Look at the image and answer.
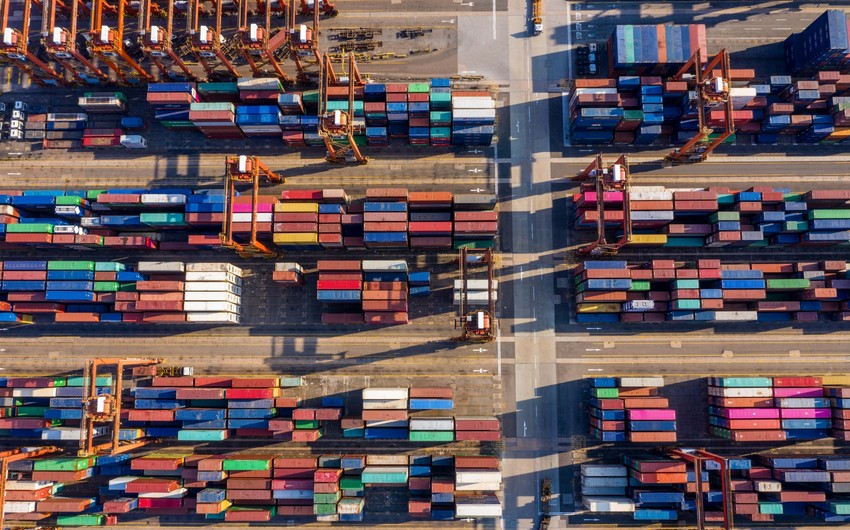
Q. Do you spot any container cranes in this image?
Yes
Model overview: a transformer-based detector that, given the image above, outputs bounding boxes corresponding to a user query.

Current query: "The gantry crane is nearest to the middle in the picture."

[453,247,496,346]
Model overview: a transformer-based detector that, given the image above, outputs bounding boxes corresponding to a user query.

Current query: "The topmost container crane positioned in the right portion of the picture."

[662,50,731,157]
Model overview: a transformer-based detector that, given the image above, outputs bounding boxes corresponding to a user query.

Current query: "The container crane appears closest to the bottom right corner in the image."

[659,446,733,530]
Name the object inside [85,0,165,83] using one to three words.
container crane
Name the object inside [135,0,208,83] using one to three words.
container crane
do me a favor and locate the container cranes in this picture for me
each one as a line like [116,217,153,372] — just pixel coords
[39,0,120,83]
[221,154,286,255]
[0,444,68,530]
[234,0,296,83]
[662,50,731,157]
[283,0,339,83]
[316,51,369,159]
[659,446,733,530]
[85,0,165,83]
[574,151,632,253]
[81,356,168,456]
[0,0,76,83]
[184,0,252,83]
[135,0,208,83]
[453,247,496,346]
